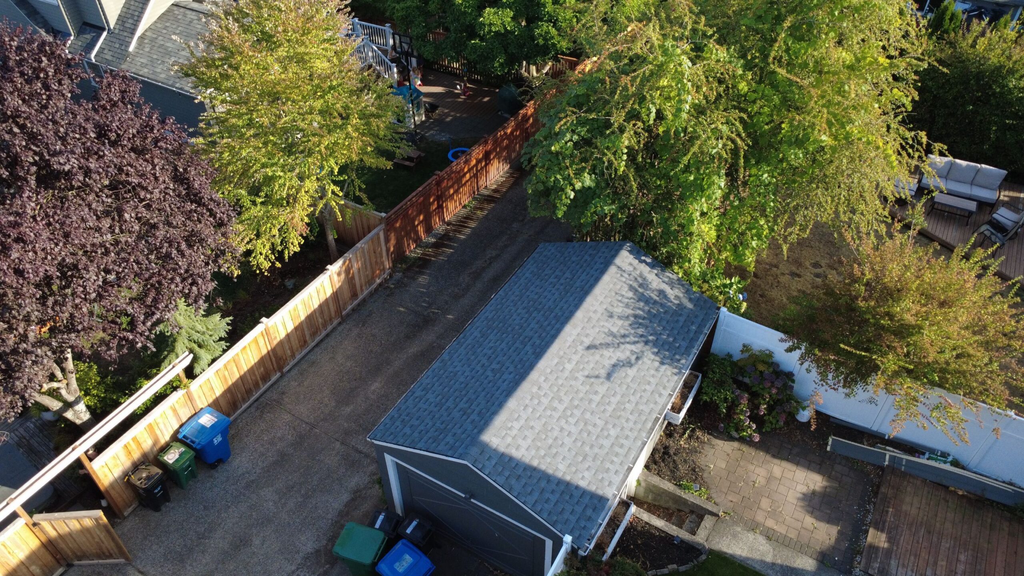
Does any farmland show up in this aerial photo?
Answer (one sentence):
No, the scene doesn't show any farmland.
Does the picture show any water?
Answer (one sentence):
No, there is no water in the image.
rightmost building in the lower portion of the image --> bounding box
[365,240,720,576]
